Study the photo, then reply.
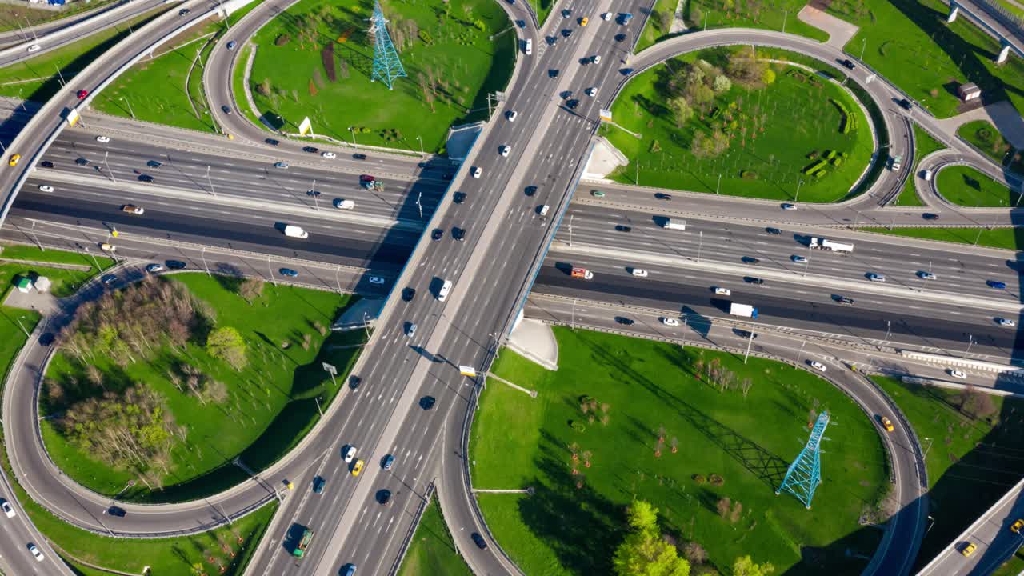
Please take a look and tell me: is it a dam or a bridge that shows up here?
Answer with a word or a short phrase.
bridge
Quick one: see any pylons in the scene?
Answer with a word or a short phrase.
Yes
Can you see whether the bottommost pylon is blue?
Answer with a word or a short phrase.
Yes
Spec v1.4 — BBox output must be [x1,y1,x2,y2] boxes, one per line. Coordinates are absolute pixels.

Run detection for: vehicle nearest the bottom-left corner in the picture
[30,544,43,560]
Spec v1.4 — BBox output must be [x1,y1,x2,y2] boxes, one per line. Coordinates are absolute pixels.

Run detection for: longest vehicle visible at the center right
[806,234,857,252]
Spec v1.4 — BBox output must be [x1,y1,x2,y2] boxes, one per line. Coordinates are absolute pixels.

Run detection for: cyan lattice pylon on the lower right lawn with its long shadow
[775,408,831,509]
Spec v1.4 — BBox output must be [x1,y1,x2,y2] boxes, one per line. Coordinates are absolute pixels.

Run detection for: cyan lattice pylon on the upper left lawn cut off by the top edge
[370,0,408,89]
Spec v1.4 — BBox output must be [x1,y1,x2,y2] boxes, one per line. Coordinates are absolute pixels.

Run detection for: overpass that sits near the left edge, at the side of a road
[0,0,251,227]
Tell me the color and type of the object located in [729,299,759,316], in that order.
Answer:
white vehicle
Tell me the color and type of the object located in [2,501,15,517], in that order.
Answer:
white vehicle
